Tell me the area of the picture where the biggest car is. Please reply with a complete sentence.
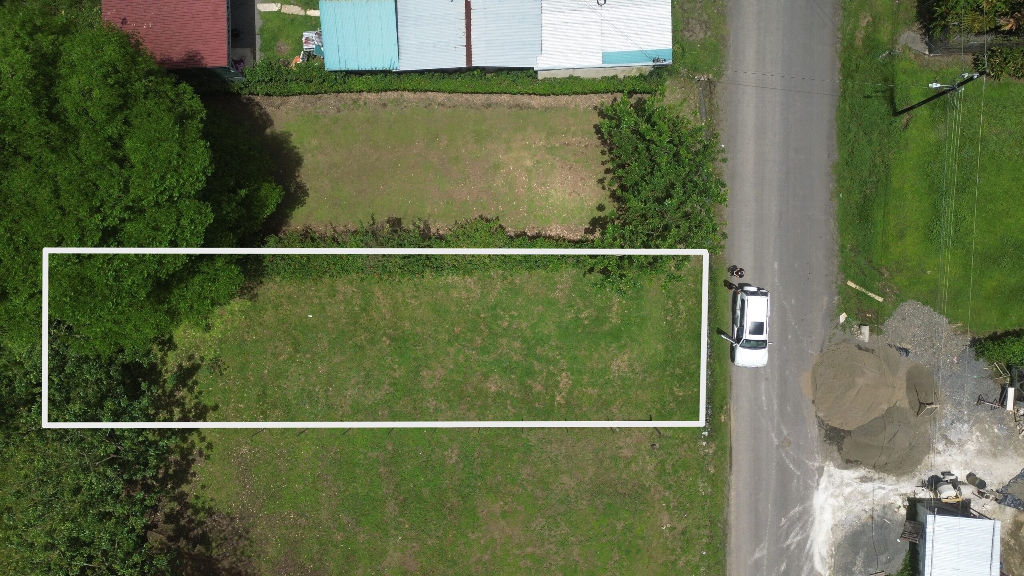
The biggest car sits in the right section of the image.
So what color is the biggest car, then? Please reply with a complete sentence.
From above, the biggest car appears white.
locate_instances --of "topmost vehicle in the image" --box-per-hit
[720,289,774,368]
